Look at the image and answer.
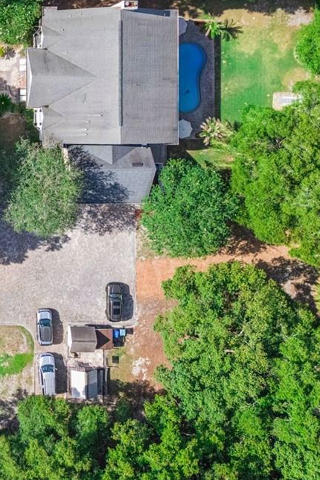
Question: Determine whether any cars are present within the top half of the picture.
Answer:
No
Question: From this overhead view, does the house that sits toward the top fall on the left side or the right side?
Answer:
left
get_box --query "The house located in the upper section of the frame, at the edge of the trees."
[16,0,179,203]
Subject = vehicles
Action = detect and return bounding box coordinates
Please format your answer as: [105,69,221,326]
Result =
[36,308,54,344]
[37,352,56,396]
[104,281,123,319]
